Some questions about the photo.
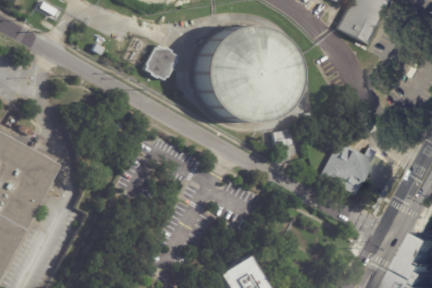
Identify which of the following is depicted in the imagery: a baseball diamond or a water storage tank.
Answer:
water storage tank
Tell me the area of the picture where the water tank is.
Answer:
top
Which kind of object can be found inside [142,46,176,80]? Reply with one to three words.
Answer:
building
